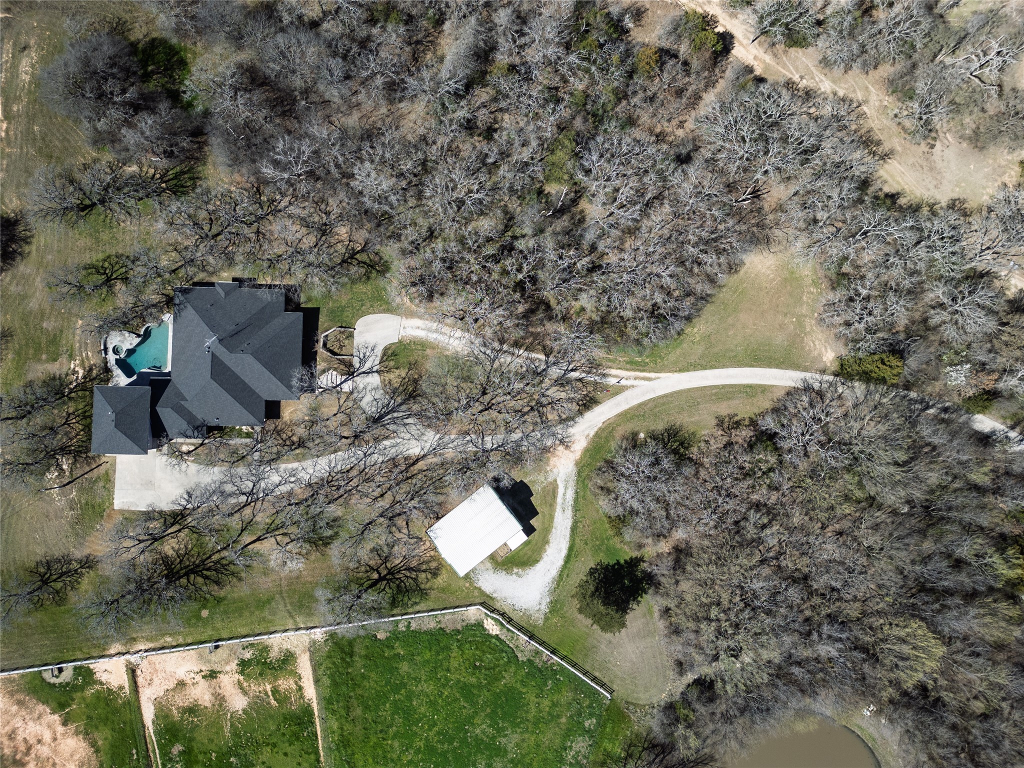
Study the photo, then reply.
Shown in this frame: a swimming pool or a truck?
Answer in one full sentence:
The one in the frame is a swimming pool.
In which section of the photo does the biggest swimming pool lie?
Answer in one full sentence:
You can find the biggest swimming pool in the left area of the picture.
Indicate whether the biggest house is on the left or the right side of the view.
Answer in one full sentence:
The biggest house appears in the left half of the scene.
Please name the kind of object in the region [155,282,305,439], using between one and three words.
house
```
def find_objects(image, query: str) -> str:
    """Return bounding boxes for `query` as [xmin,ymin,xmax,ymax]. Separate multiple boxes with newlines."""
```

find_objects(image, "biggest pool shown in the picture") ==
[113,318,171,381]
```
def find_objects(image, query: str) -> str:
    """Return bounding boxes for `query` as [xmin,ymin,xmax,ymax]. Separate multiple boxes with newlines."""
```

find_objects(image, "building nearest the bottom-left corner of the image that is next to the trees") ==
[91,385,159,455]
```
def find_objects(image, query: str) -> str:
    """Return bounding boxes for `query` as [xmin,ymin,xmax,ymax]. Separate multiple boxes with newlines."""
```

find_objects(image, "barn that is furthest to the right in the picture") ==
[426,483,528,576]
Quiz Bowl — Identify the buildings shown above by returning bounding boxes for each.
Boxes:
[426,483,528,576]
[155,282,305,439]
